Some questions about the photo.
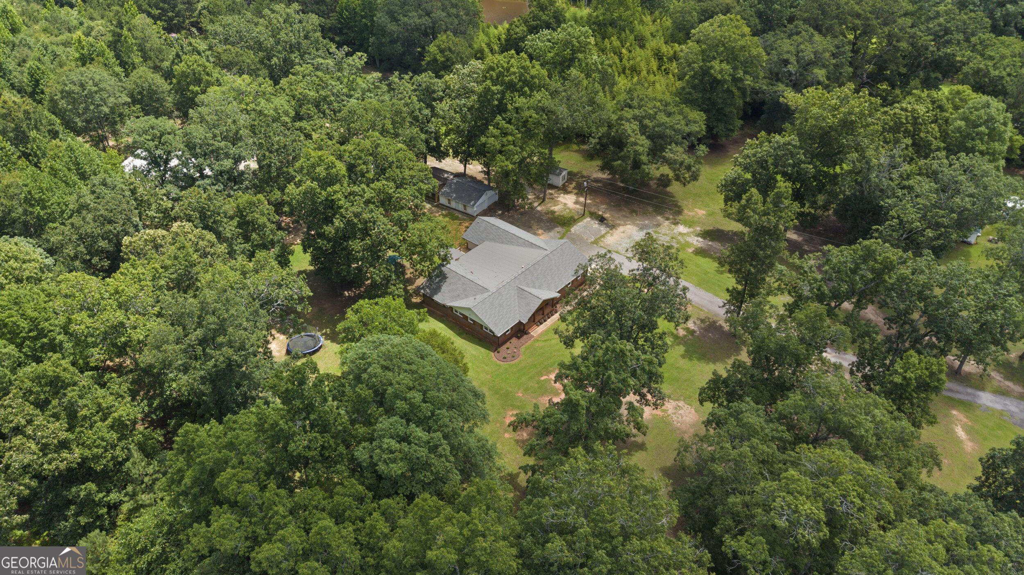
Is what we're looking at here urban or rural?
rural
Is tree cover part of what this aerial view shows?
Yes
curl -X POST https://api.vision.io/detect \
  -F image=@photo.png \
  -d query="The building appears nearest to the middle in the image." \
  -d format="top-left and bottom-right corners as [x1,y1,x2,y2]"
[422,217,592,347]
